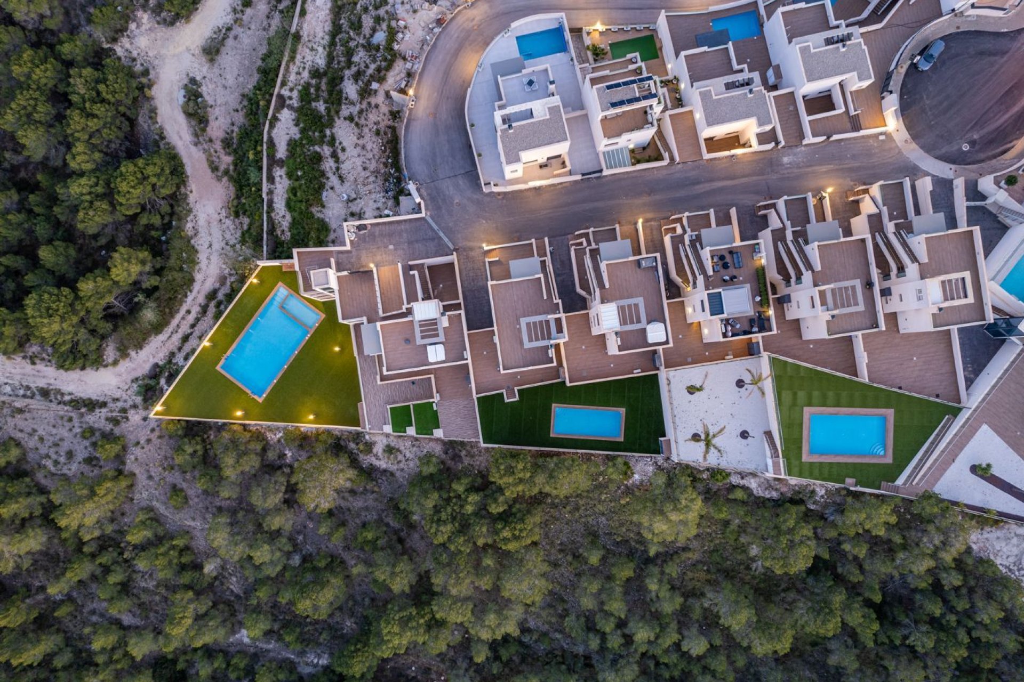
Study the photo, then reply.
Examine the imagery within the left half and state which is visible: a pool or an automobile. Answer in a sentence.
There is a pool within the left half.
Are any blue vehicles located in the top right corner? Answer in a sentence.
Yes, a blue vehicle shows up in the top right corner.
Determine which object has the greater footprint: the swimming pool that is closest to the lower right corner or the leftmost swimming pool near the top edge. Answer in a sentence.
It is the swimming pool that is closest to the lower right corner that is larger, not the leftmost swimming pool near the top edge.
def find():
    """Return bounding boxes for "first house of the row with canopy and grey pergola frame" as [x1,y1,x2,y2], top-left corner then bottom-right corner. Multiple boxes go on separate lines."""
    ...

[488,257,569,373]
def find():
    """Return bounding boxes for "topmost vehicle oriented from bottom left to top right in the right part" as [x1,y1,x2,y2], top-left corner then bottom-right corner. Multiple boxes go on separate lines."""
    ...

[914,37,947,73]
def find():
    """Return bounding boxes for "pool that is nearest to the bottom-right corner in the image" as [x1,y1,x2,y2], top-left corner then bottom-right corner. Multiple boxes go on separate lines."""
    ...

[802,407,894,464]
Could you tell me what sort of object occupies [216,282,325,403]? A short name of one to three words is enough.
swimming pool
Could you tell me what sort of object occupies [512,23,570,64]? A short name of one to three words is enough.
swimming pool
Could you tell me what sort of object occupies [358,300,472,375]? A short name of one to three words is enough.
house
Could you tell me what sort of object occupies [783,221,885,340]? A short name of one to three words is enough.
house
